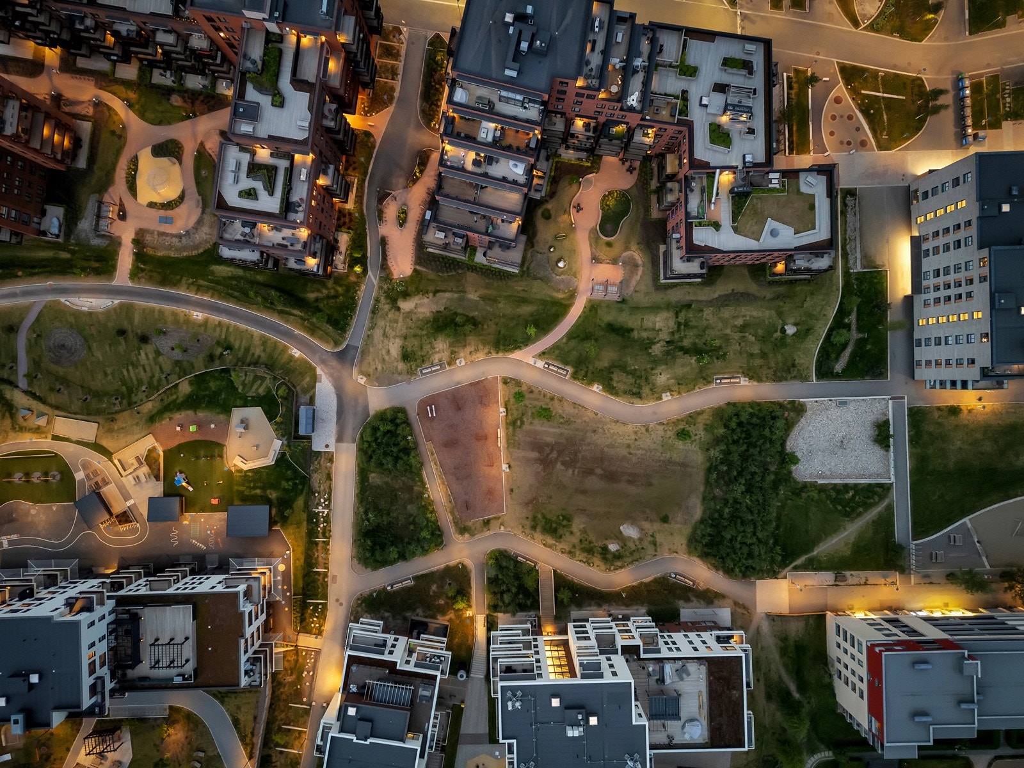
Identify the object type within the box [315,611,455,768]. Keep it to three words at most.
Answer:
building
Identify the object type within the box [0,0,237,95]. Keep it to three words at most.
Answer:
building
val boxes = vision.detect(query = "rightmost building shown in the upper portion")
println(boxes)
[909,152,1024,393]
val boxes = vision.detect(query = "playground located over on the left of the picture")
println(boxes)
[0,442,290,632]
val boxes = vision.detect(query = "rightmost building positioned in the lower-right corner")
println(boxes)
[827,610,1024,759]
